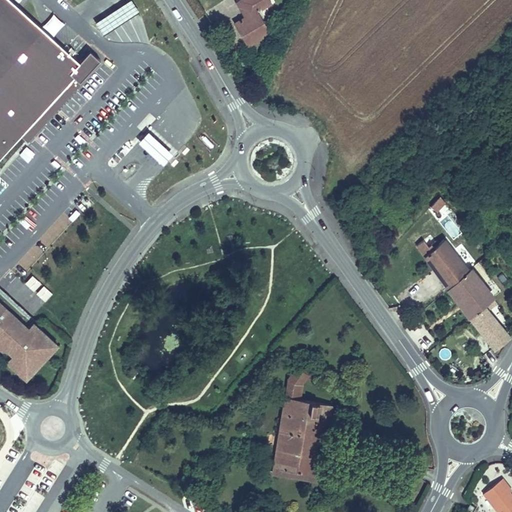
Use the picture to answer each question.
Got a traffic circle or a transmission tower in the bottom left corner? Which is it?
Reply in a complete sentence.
Visible in the bottom left corner is a traffic circle.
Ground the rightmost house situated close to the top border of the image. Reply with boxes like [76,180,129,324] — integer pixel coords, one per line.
[234,0,274,46]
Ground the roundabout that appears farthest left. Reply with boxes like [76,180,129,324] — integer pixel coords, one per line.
[24,390,81,455]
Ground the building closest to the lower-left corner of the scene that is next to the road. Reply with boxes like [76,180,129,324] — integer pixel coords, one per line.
[0,295,60,382]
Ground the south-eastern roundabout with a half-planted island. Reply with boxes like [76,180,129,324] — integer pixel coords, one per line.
[429,380,512,486]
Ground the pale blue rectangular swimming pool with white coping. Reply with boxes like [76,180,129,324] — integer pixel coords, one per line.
[441,216,460,238]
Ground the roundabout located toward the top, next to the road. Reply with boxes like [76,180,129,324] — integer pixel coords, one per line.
[225,118,312,210]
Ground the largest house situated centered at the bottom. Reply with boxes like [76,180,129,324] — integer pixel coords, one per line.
[272,400,334,484]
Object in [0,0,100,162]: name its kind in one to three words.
building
